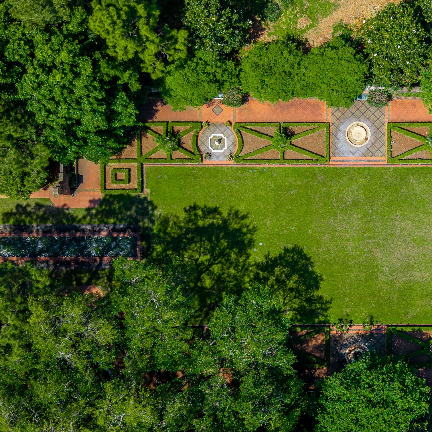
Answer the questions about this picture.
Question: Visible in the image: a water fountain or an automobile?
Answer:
water fountain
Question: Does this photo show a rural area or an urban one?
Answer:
rural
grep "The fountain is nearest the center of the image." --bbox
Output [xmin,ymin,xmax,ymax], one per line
[208,134,228,152]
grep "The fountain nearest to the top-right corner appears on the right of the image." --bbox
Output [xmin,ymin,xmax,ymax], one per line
[345,121,371,147]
